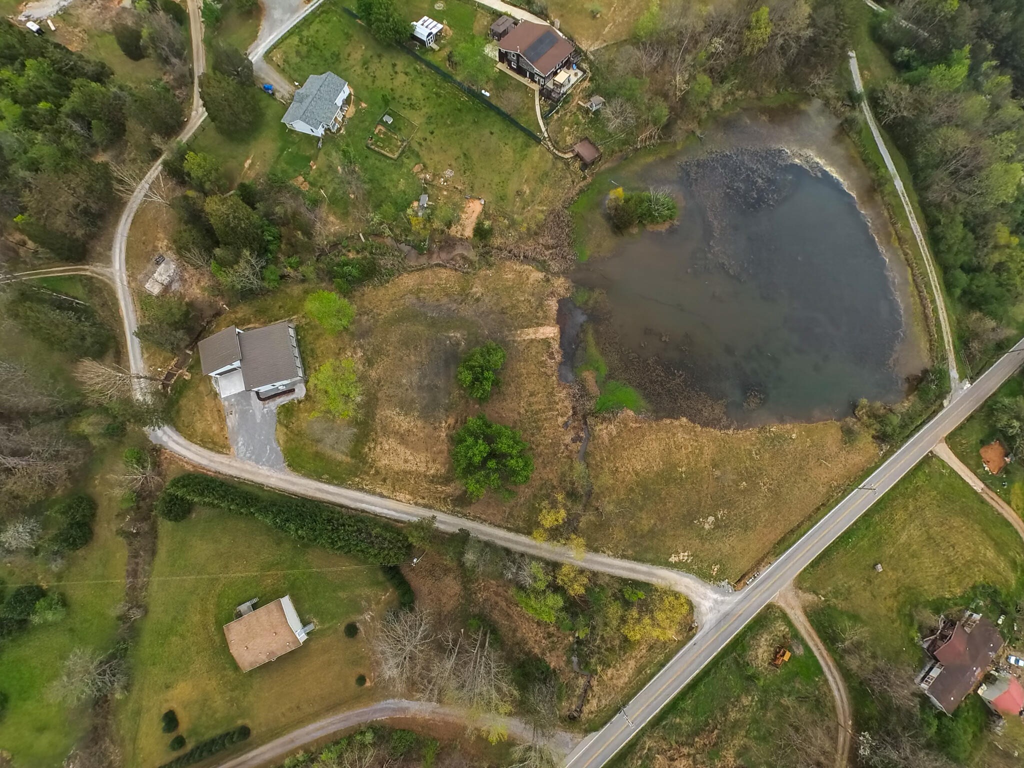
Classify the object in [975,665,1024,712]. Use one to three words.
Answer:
shed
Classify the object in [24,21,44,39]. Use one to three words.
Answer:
vehicle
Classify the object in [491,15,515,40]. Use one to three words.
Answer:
gazebo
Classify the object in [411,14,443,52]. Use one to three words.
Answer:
shed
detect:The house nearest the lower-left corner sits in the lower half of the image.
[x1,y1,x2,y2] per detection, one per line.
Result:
[223,594,318,673]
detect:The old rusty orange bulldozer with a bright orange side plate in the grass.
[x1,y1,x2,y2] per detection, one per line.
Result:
[766,644,790,670]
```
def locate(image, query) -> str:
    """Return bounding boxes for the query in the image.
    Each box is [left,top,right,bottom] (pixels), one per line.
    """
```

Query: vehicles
[1005,654,1024,668]
[24,21,44,39]
[766,644,790,670]
[153,255,165,265]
